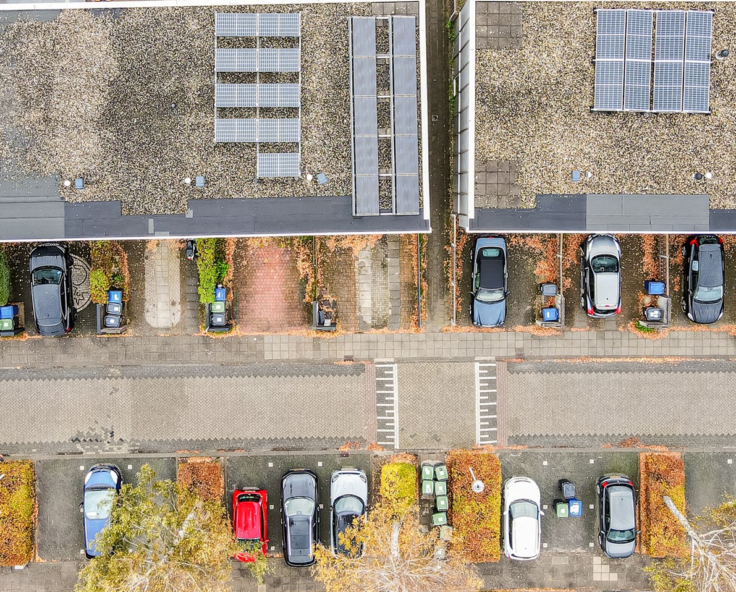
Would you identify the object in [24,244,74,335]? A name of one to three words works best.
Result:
car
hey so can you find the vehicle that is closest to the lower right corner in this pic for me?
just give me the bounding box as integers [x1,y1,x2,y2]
[597,470,642,555]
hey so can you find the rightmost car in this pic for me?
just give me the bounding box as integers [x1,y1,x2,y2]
[682,235,729,324]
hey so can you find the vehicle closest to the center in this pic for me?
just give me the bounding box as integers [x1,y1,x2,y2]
[468,234,511,326]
